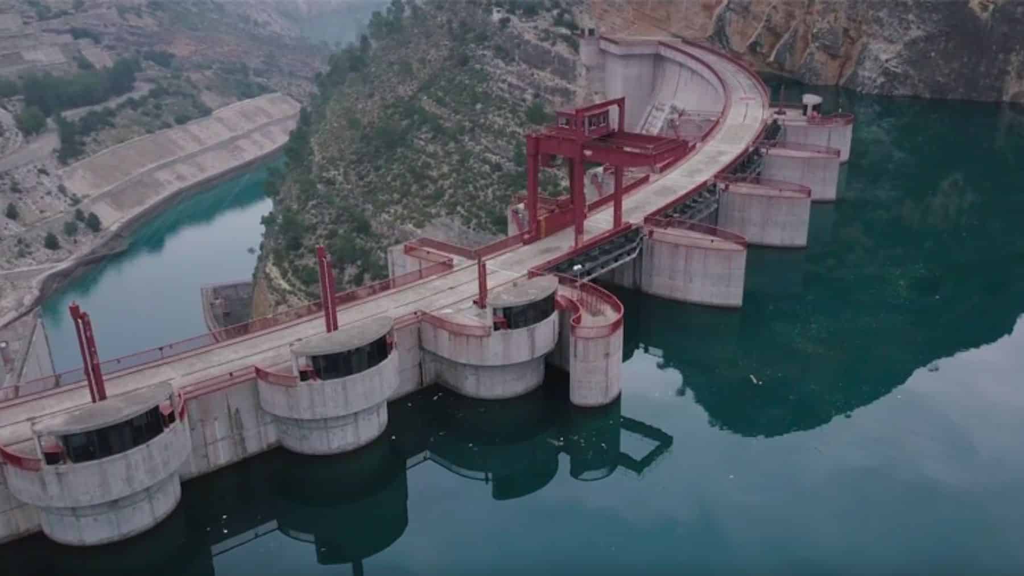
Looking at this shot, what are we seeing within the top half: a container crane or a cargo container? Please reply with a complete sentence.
You can see a container crane within the top half.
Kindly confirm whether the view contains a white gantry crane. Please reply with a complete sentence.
No, this view has no white gantry crane in it.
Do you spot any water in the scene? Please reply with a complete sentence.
Yes, there's water in this view.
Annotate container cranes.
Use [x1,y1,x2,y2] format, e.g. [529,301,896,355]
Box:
[524,92,702,248]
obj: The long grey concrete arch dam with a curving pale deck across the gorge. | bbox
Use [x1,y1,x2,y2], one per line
[0,40,771,555]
